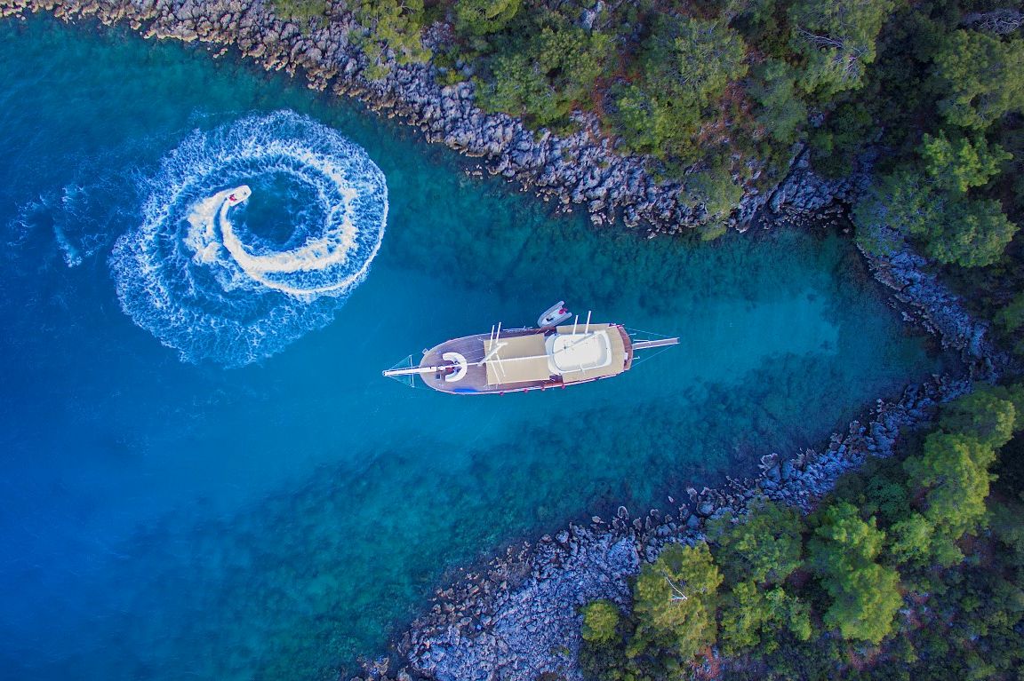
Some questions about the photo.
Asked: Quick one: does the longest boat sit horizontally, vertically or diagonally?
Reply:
horizontally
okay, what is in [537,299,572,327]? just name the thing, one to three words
boat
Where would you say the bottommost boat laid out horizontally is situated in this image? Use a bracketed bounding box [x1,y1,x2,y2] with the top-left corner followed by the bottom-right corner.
[383,314,683,393]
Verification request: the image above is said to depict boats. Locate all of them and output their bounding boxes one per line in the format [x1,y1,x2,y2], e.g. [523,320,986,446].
[383,314,683,393]
[537,299,572,327]
[223,182,251,204]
